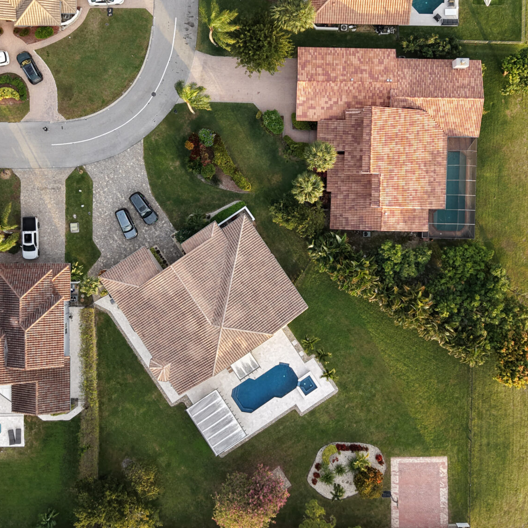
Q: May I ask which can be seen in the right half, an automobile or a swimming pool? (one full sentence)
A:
It is a swimming pool that can be seen in the right half.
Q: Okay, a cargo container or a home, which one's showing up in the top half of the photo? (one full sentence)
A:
What appears in the top half of the photo is a home.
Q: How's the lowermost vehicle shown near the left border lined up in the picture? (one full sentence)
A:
I'd say the lowermost vehicle shown near the left border is aligned up and down in the picture.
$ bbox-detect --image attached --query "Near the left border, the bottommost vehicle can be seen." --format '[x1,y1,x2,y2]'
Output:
[21,216,41,258]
